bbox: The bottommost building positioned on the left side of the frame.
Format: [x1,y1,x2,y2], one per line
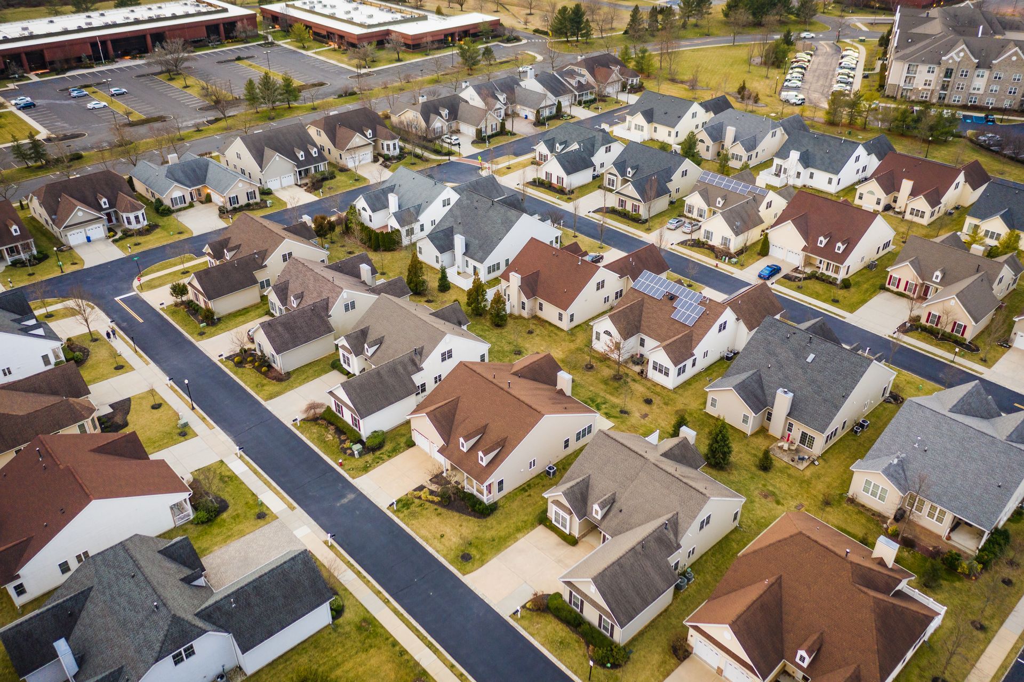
[0,530,336,682]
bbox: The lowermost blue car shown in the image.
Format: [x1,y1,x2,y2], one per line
[757,261,782,277]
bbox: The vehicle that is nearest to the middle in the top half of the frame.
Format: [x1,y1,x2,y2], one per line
[587,249,605,263]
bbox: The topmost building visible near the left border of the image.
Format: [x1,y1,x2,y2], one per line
[0,0,256,77]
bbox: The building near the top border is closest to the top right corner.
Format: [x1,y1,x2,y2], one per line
[883,0,1024,107]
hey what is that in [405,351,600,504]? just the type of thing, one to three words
house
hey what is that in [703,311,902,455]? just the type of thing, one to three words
house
